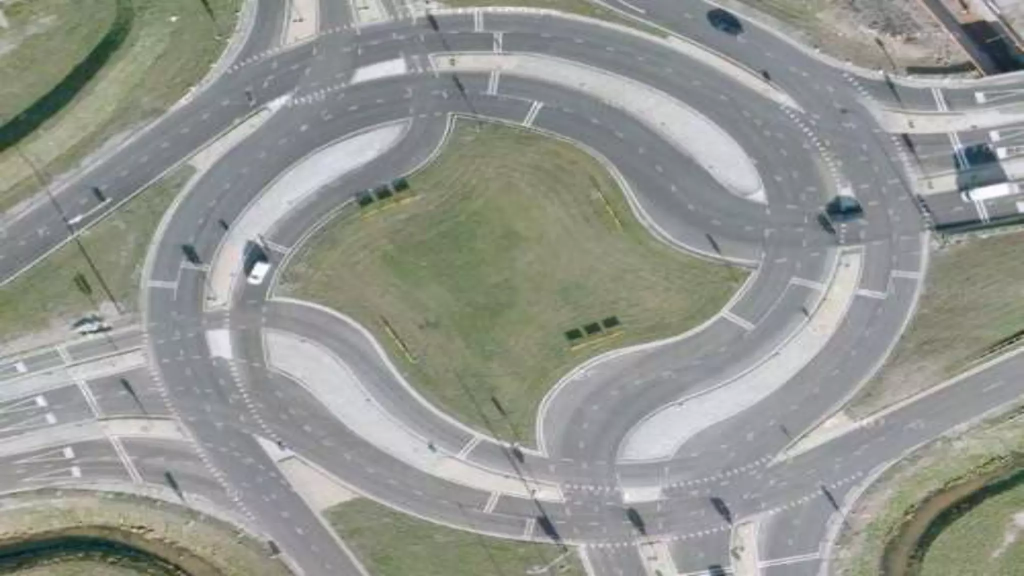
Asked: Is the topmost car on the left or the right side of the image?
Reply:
right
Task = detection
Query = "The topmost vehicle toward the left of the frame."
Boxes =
[247,259,268,287]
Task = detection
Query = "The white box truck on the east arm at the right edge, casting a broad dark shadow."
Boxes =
[962,181,1022,209]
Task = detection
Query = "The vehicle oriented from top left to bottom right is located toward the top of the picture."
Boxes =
[715,14,743,36]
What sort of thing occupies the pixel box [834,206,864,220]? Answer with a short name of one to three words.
car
